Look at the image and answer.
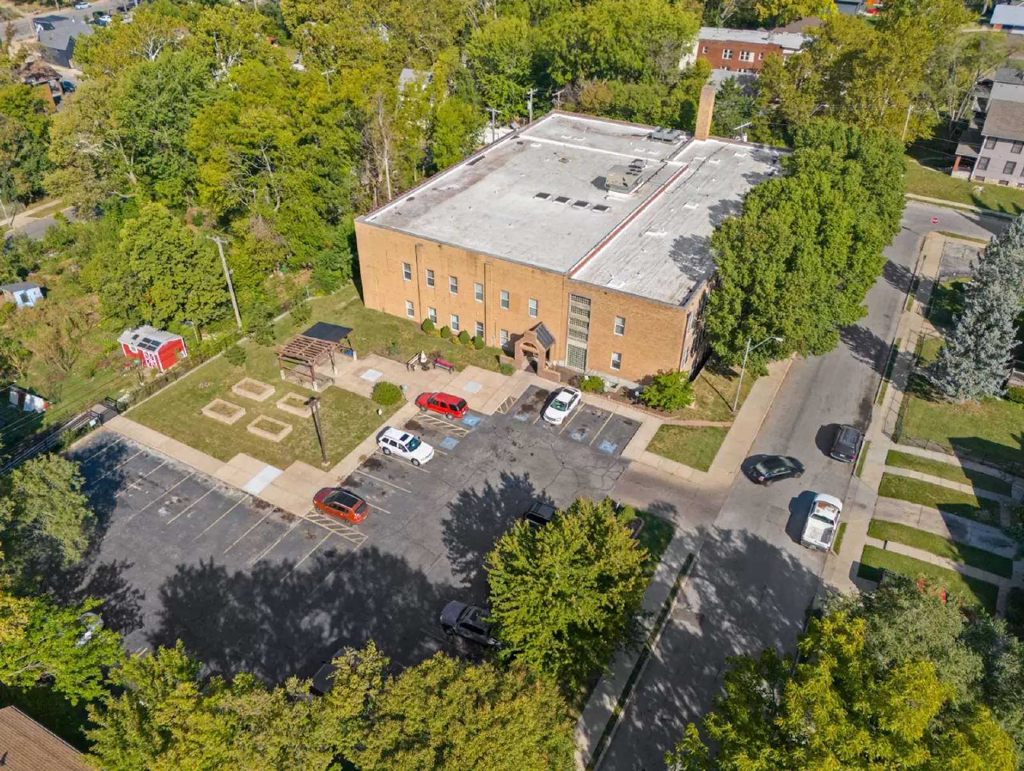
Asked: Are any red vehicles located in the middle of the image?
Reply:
Yes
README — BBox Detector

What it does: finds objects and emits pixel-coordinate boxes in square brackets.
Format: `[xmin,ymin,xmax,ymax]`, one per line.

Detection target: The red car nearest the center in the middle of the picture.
[414,391,472,424]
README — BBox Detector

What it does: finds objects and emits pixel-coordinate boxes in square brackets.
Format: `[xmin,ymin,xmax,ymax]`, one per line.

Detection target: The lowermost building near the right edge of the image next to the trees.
[942,104,1024,189]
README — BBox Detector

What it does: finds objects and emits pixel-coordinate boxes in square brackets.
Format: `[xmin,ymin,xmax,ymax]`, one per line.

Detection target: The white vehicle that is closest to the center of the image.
[542,385,584,424]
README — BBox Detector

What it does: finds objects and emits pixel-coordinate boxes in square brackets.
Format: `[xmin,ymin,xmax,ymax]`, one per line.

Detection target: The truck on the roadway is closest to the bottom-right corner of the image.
[799,490,846,551]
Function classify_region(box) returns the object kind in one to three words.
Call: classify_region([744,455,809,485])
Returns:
car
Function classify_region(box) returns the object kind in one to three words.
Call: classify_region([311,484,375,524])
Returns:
car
